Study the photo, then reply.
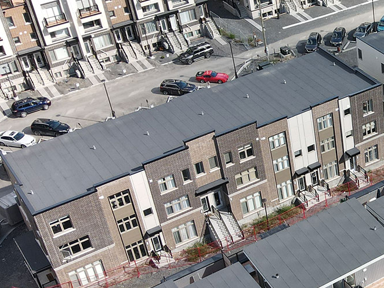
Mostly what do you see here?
buildings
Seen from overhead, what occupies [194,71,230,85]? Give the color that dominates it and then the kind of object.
red car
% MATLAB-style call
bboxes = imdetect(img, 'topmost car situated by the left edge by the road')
[11,93,51,114]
